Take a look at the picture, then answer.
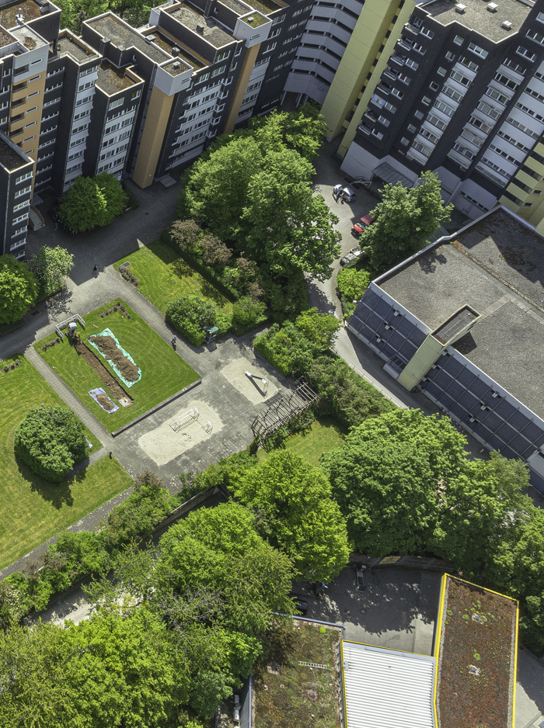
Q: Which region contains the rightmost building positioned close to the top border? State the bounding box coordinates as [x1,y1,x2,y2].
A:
[430,0,544,231]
